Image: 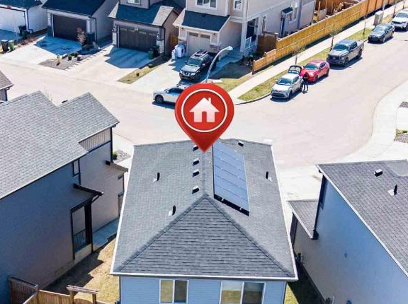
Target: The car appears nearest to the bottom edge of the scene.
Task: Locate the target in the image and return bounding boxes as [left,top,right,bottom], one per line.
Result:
[147,78,202,104]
